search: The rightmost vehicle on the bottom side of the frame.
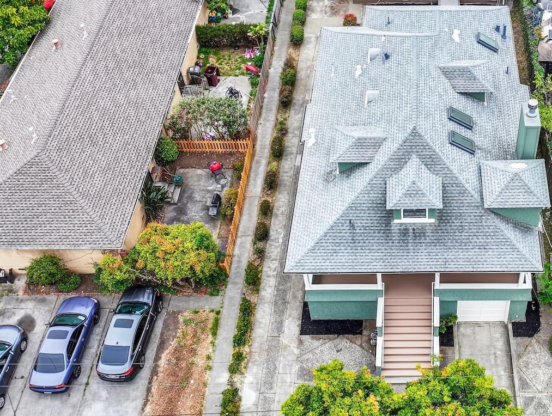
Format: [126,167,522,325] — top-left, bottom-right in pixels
[93,286,157,375]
